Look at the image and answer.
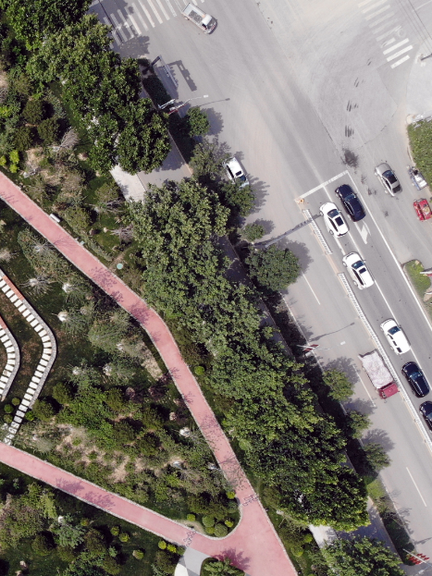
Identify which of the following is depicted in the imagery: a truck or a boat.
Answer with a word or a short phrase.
truck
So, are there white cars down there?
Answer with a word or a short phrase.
Yes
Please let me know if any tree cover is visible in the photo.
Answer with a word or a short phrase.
Yes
